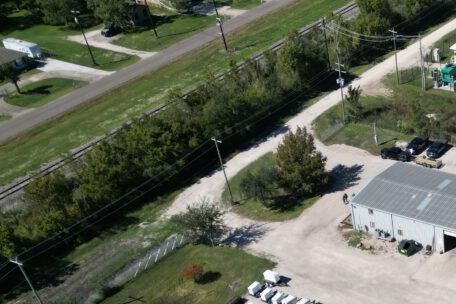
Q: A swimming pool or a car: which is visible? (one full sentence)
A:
I can see a car in this picture.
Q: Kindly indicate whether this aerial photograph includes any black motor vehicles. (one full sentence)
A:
Yes, you can see a black motor vehicle in this photo.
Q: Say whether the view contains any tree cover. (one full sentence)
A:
Yes, there is tree cover in the image.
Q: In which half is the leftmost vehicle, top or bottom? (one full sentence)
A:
It is in the top half that the leftmost vehicle appears.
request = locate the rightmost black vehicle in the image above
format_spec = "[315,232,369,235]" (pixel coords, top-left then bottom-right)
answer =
[427,137,448,159]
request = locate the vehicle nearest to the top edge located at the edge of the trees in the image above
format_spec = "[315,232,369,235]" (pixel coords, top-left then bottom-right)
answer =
[98,23,122,37]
